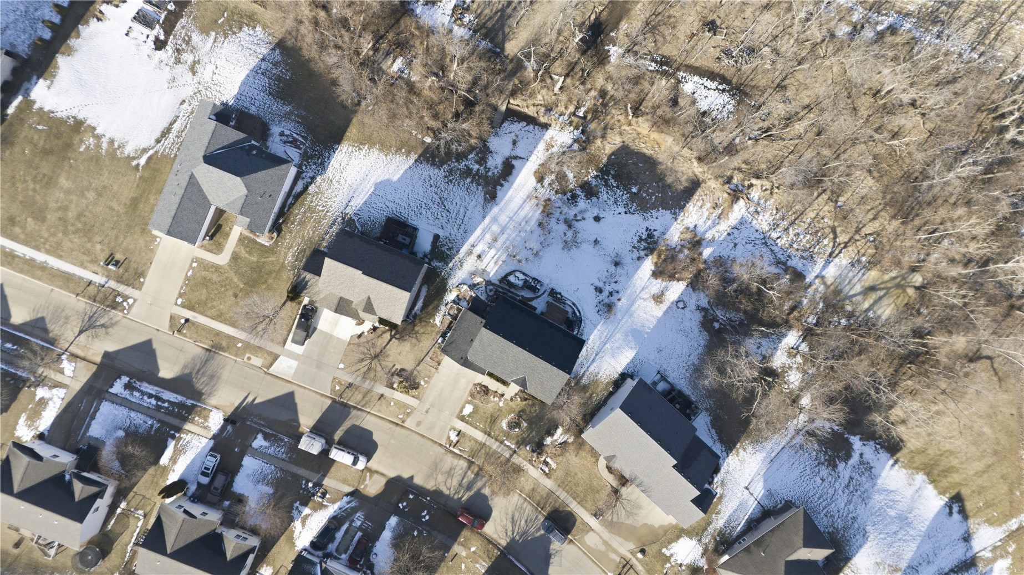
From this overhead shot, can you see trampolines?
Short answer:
Yes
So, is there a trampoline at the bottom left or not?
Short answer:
Yes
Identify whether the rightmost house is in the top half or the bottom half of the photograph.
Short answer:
bottom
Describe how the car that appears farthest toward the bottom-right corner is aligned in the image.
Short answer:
at an angle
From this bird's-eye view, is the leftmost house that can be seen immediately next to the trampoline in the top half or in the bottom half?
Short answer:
bottom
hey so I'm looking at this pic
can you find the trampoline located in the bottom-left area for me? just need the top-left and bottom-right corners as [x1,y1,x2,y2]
[66,538,105,572]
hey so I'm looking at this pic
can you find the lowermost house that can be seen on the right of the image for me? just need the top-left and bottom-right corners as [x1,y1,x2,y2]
[714,504,835,575]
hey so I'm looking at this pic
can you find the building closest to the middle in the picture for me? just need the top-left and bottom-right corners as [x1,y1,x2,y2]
[440,294,586,405]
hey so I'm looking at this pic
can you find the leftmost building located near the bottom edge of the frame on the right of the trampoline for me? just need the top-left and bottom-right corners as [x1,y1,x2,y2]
[135,494,266,575]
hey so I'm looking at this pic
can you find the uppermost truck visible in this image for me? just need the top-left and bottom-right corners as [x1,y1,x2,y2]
[289,303,314,347]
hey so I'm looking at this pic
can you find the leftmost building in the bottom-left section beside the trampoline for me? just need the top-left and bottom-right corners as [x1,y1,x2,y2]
[0,430,125,551]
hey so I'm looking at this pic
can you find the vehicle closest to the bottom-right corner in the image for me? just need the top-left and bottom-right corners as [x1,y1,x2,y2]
[538,519,572,550]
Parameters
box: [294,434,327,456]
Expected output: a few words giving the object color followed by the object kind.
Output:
white camper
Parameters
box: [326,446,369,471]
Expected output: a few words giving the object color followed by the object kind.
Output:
white car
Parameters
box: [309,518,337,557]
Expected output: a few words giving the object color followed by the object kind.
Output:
black car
